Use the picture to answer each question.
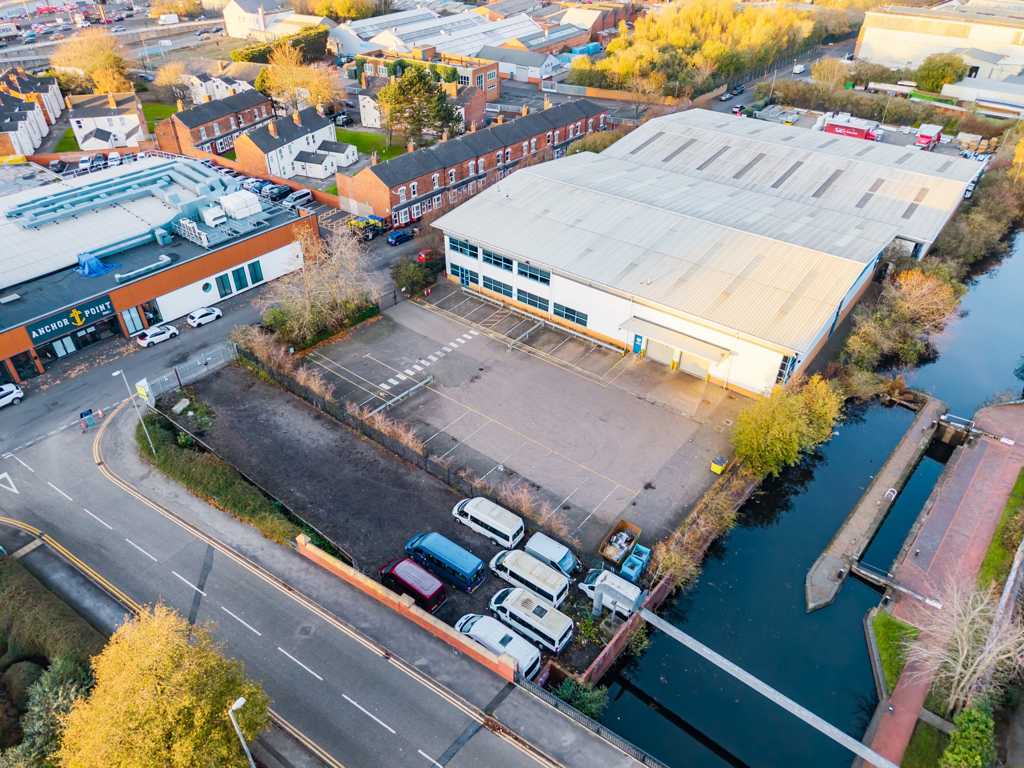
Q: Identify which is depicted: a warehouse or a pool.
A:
warehouse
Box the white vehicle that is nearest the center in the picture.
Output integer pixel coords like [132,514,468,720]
[442,487,518,546]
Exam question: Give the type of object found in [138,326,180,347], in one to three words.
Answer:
car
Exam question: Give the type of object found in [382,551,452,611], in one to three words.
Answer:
van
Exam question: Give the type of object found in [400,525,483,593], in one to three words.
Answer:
vehicle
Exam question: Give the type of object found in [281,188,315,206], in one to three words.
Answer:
car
